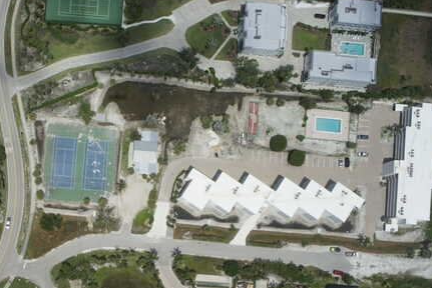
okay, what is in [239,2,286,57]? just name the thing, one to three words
building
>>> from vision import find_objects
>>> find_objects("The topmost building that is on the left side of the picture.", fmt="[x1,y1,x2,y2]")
[129,130,159,174]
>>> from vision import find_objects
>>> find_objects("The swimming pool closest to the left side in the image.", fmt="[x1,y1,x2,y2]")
[306,110,348,140]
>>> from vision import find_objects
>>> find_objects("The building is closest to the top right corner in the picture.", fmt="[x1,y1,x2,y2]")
[328,0,382,31]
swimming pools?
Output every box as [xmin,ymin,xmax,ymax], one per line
[306,110,348,140]
[332,32,377,58]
